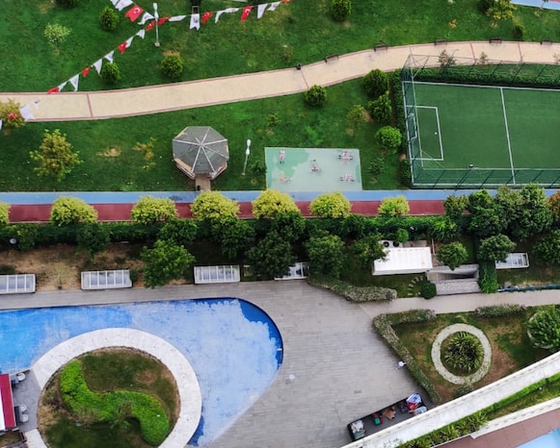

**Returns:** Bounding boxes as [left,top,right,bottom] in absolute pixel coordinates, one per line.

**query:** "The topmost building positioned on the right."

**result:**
[369,246,432,275]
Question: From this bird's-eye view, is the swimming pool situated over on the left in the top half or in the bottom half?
bottom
